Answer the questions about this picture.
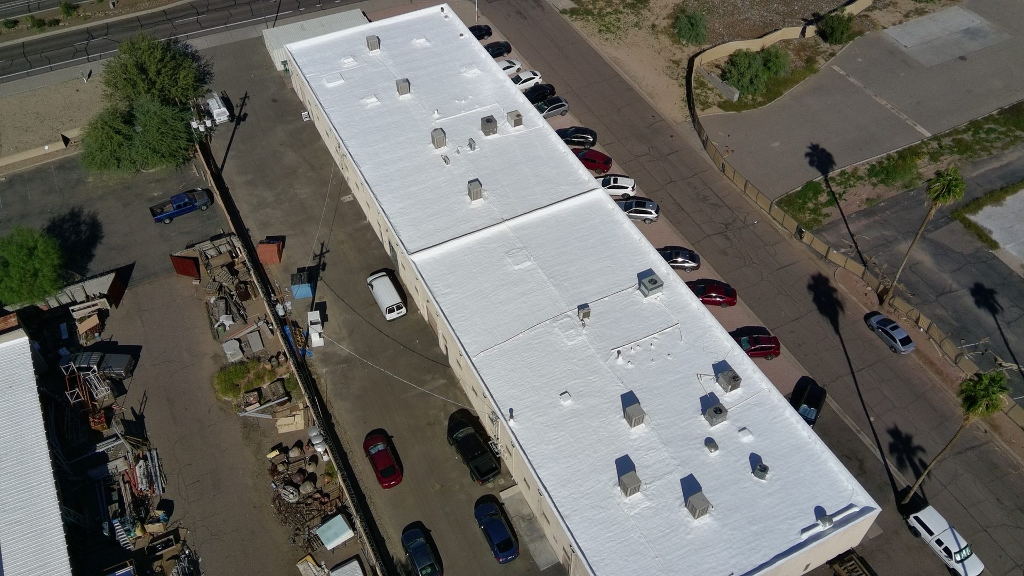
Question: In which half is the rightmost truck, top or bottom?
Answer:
bottom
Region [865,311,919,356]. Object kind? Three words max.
car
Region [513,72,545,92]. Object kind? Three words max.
car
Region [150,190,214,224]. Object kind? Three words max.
truck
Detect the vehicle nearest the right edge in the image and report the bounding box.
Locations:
[905,507,994,576]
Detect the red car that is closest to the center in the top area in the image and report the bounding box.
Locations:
[573,148,614,172]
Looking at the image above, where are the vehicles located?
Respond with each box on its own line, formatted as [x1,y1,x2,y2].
[206,88,231,125]
[365,433,404,491]
[525,86,558,106]
[64,349,134,383]
[405,527,445,576]
[690,282,738,309]
[476,500,518,566]
[905,507,994,576]
[573,148,614,172]
[513,72,545,92]
[795,382,827,431]
[450,416,503,489]
[365,270,409,324]
[619,200,660,225]
[599,177,636,201]
[731,331,782,360]
[150,190,214,224]
[539,101,572,122]
[499,61,524,76]
[865,311,919,356]
[660,248,701,274]
[558,128,597,149]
